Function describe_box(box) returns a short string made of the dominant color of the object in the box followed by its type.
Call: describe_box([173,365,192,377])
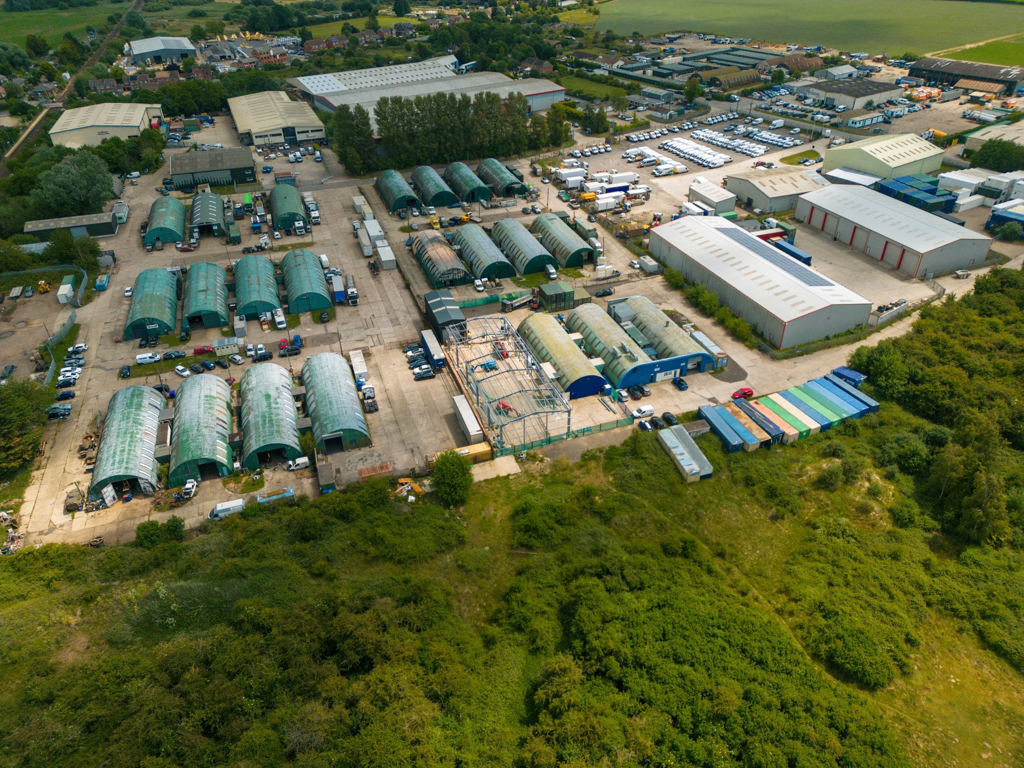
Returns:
white vehicle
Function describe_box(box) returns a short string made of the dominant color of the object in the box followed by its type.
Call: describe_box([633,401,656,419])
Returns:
white vehicle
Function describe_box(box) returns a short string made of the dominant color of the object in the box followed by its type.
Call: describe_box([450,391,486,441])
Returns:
white trailer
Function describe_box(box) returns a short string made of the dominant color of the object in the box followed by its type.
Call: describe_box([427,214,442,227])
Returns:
yellow vehicle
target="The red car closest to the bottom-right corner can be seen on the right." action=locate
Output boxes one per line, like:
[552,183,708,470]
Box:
[732,387,754,399]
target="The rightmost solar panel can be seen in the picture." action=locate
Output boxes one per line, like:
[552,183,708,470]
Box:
[713,225,834,284]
